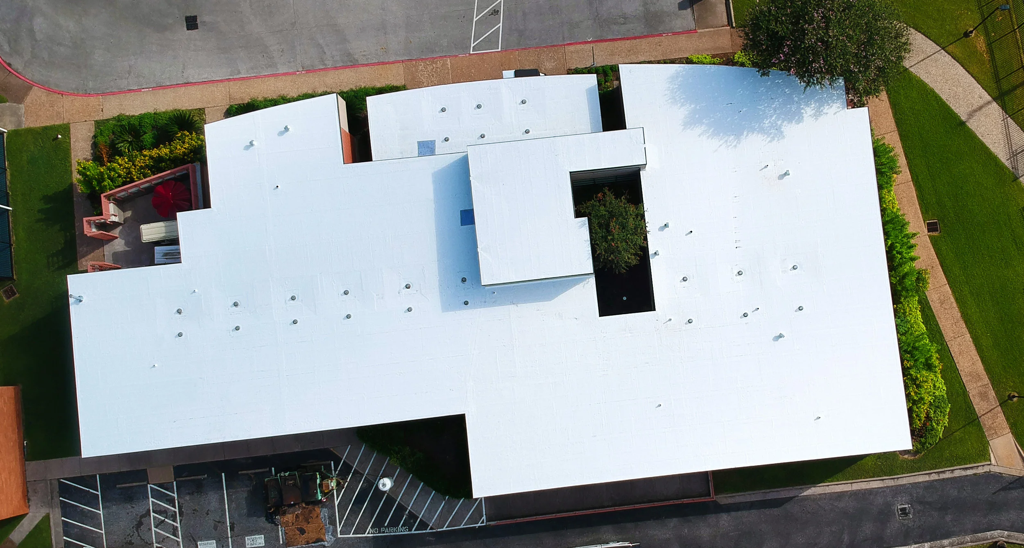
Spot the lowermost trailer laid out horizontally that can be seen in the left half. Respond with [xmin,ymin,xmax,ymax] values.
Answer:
[264,468,351,507]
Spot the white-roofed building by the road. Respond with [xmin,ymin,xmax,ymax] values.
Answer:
[67,63,913,499]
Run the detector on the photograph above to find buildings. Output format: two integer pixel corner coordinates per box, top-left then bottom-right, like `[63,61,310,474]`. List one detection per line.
[0,386,31,518]
[67,63,913,499]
